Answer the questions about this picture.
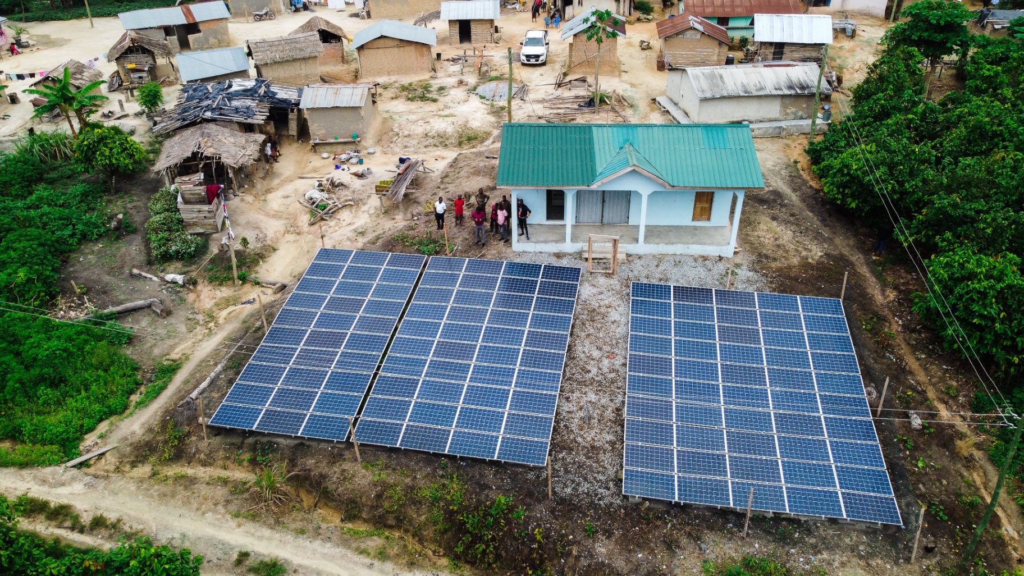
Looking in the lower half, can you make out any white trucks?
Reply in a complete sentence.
No, I can find no white truck in the lower half.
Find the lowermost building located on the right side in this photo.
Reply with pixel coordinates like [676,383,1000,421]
[495,123,764,261]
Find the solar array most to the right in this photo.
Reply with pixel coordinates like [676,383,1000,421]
[622,283,903,532]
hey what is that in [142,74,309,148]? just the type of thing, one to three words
shed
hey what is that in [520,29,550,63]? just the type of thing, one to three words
truck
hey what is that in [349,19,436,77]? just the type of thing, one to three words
shed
